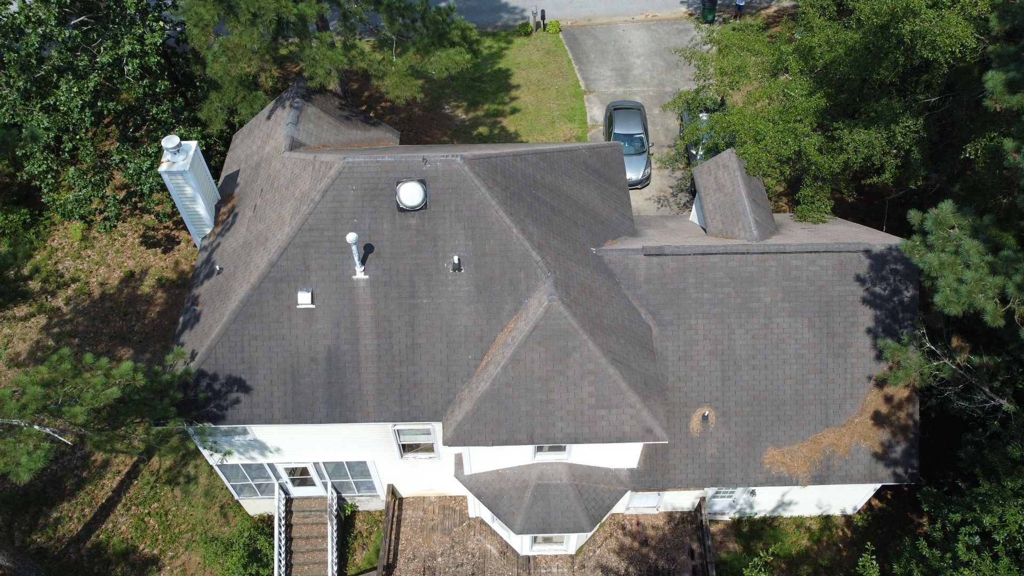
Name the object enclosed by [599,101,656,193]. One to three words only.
car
